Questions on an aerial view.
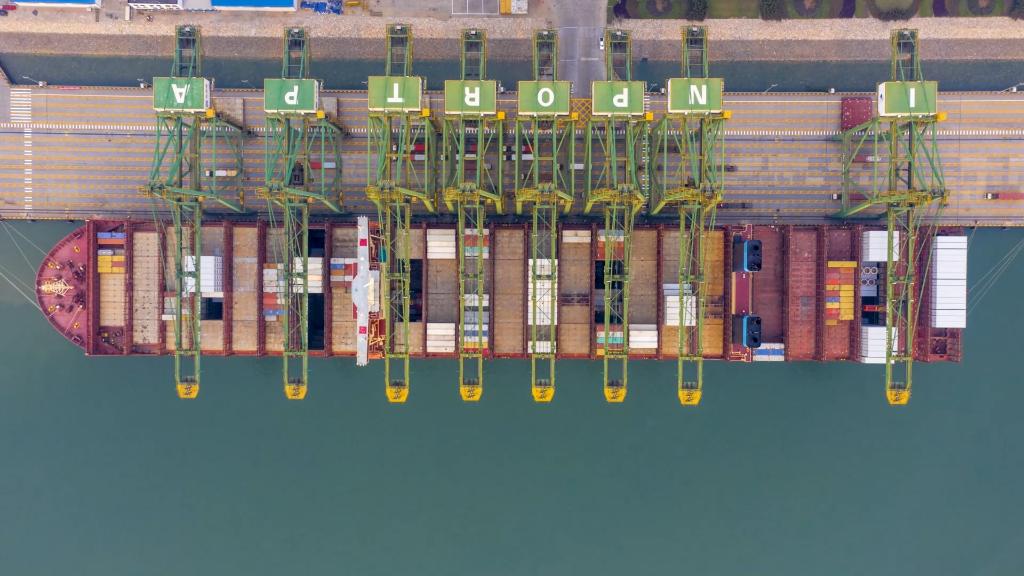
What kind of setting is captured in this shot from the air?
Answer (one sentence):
This image shows a port.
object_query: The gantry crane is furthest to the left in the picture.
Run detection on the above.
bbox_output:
[144,25,257,399]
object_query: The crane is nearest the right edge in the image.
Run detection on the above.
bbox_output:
[829,29,948,404]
